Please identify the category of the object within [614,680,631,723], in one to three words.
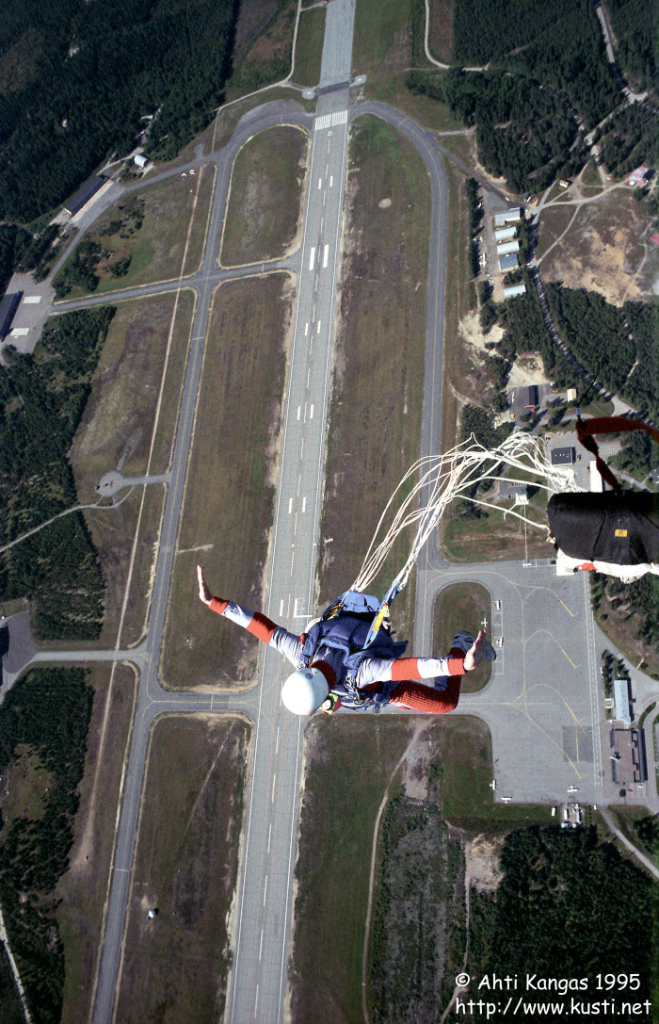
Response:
building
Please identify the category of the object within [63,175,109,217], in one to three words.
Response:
hangar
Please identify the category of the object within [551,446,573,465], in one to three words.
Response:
building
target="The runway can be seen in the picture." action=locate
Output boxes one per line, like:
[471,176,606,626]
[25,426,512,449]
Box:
[228,93,350,1024]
